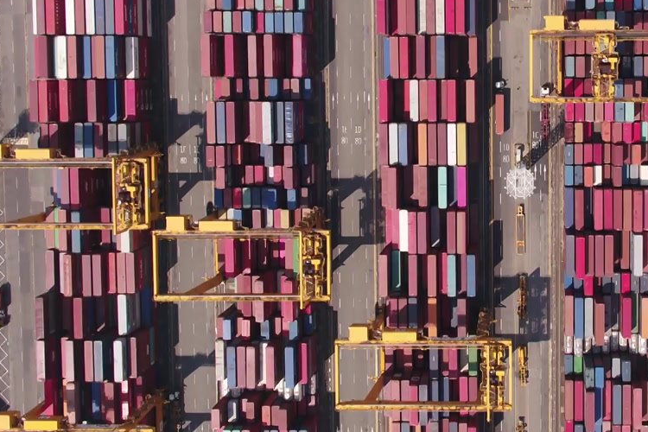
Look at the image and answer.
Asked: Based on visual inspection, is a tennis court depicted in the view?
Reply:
No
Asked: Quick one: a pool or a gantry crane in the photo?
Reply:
gantry crane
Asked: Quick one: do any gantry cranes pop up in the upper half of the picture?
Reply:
Yes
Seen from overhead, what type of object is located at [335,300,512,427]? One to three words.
container crane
